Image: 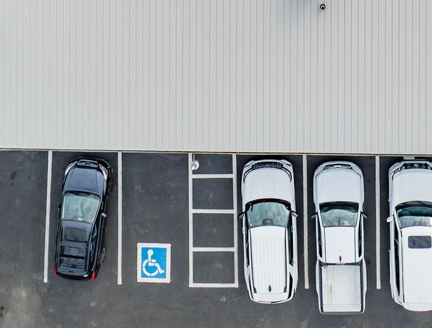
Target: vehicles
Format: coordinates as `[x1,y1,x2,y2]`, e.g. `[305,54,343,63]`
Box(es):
[308,160,371,319]
[235,160,302,305]
[385,158,432,308]
[49,156,113,281]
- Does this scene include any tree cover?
No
